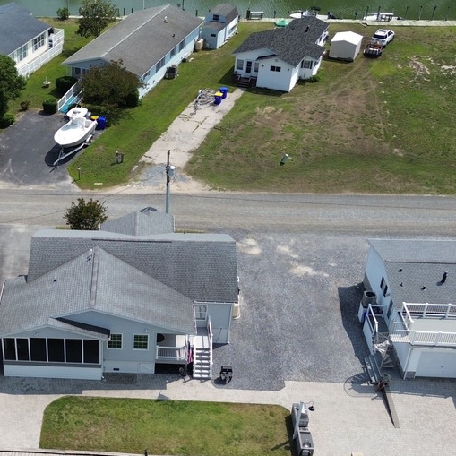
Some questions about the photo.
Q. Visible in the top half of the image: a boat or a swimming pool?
boat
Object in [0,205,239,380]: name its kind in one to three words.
house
